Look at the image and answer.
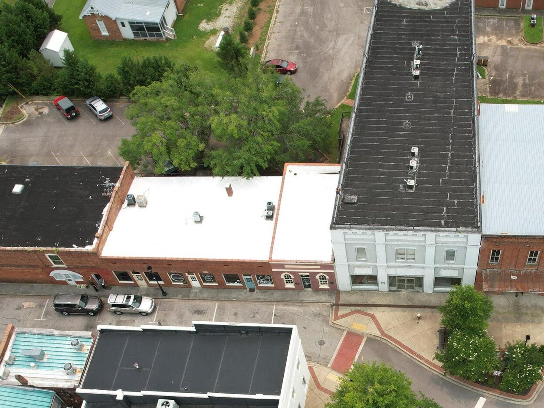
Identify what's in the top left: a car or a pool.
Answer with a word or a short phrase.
car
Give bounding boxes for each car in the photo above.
[106,292,157,317]
[260,56,301,76]
[52,94,81,122]
[84,97,115,124]
[51,290,104,314]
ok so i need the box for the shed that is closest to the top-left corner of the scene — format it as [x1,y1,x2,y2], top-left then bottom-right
[45,23,73,66]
